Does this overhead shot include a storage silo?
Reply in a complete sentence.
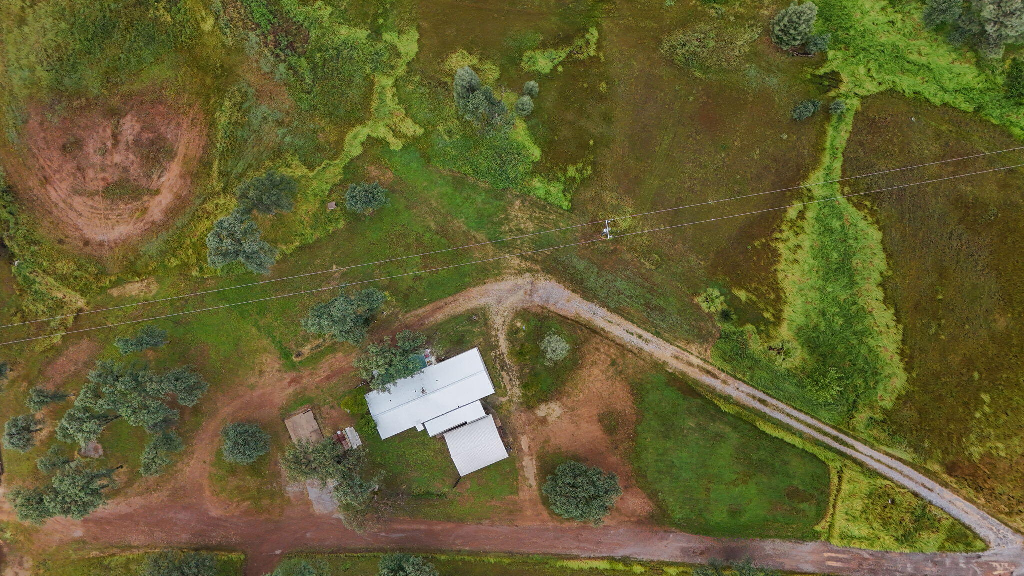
No, this view has no storage silo in it.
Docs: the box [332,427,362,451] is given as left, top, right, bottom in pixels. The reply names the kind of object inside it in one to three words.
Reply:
shed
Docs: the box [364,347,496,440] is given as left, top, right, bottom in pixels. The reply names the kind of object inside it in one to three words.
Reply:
house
